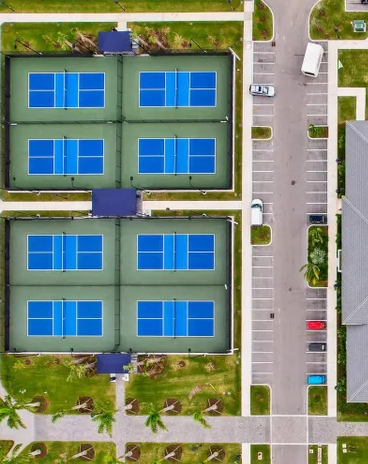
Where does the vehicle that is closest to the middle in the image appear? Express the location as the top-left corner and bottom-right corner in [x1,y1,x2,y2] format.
[249,198,264,227]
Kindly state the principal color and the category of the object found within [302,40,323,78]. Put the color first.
white vehicle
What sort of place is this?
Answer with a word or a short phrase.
sports ground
